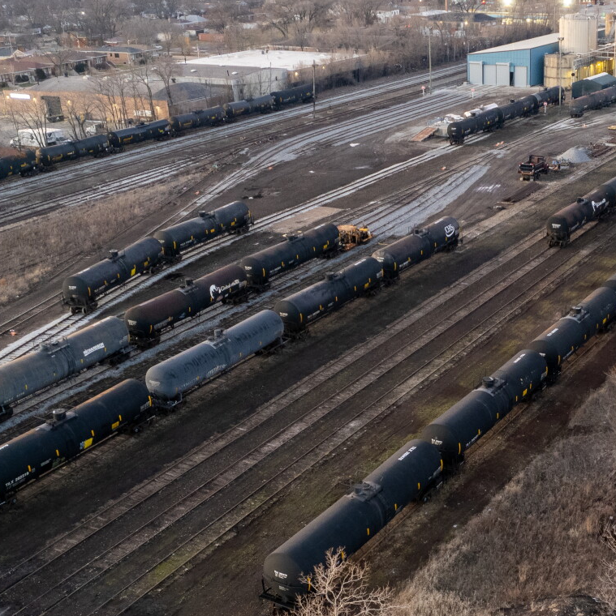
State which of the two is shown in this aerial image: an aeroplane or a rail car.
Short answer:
rail car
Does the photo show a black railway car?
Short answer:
Yes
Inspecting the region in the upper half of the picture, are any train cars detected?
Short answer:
Yes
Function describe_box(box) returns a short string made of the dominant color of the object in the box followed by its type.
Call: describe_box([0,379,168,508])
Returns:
black rail car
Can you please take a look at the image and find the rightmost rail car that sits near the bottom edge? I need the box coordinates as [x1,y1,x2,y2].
[262,440,447,615]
